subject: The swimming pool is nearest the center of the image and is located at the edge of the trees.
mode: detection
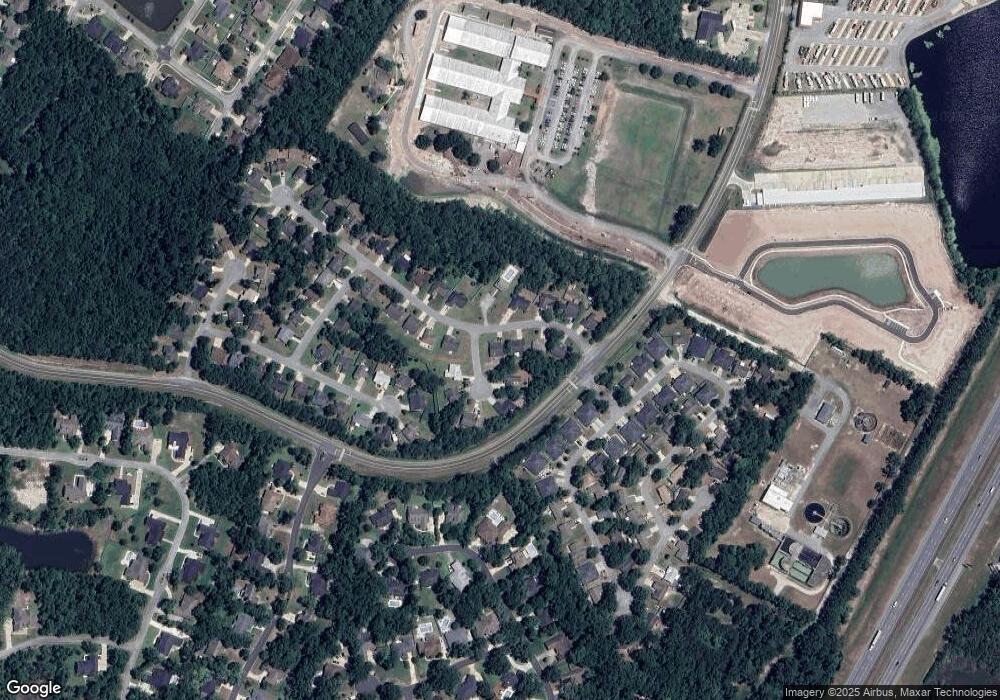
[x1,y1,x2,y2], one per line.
[501,264,519,282]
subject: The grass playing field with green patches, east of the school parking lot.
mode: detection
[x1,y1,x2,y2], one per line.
[592,87,683,230]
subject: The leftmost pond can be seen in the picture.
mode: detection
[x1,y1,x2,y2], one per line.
[0,528,92,570]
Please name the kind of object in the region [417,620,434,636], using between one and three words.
swimming pool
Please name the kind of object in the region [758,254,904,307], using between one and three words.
pond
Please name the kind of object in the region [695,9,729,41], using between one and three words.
building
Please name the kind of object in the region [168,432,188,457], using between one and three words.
house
